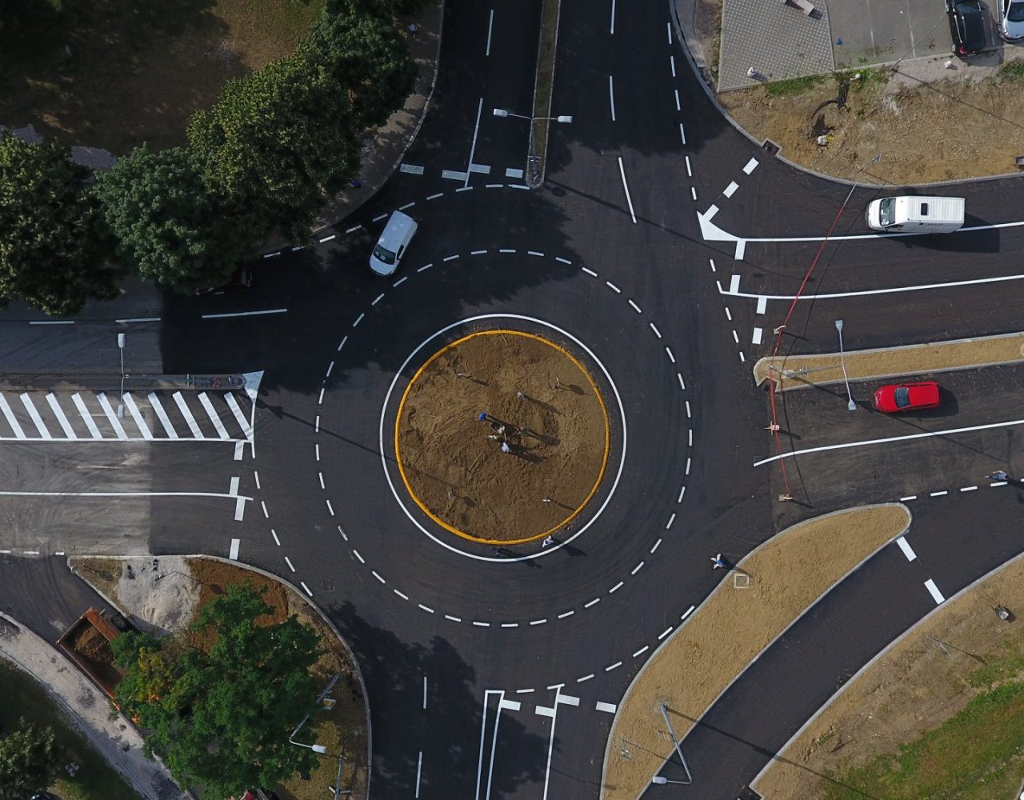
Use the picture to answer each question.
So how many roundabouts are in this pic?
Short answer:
1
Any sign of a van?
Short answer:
Yes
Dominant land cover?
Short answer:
paved ground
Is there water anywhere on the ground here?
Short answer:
No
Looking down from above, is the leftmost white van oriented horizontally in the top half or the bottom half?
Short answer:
top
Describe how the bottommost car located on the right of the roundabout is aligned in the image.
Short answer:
from left to right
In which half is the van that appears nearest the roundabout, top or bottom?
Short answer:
top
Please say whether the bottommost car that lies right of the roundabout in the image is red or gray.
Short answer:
red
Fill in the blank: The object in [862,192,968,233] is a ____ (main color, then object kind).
white van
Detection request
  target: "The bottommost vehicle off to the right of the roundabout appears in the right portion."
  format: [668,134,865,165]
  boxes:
[872,380,944,414]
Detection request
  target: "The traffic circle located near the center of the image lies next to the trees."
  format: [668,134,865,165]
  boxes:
[317,250,692,626]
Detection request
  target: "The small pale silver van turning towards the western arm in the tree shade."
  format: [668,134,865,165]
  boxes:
[368,210,419,279]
